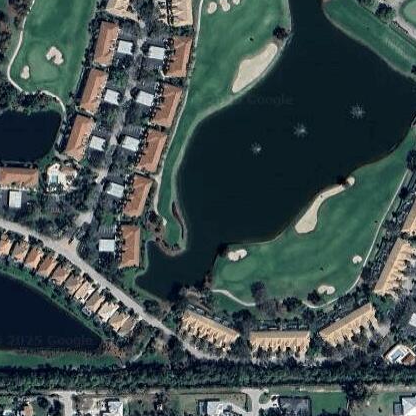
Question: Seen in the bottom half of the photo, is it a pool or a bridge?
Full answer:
You can see a pool in the bottom half of the photo.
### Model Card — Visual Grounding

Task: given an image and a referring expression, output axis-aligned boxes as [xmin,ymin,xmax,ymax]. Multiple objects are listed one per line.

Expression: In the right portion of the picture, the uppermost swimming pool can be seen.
[385,344,416,363]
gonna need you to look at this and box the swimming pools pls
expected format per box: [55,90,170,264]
[393,403,401,414]
[385,344,416,363]
[48,163,77,191]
